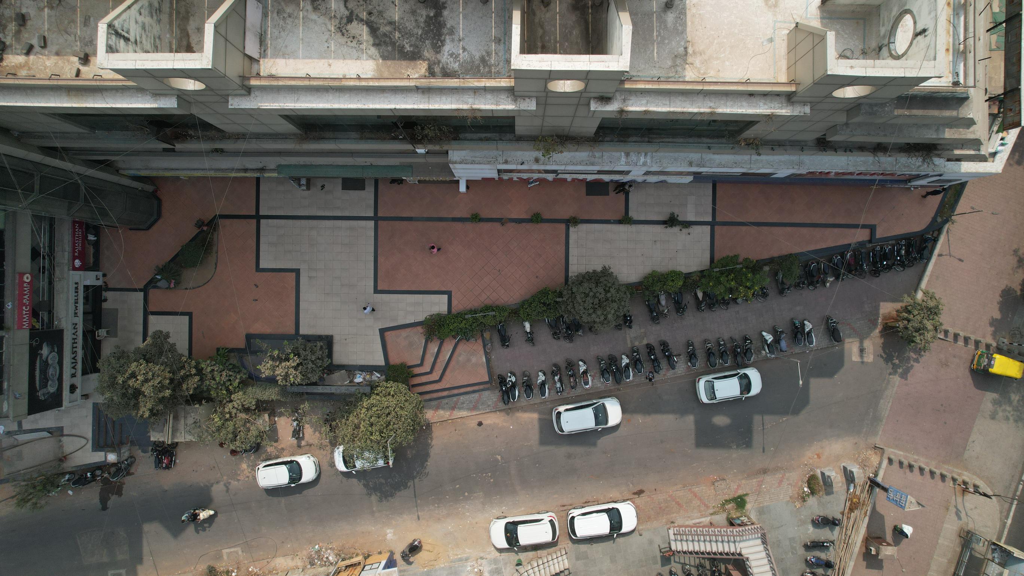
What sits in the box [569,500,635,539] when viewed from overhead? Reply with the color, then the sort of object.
white car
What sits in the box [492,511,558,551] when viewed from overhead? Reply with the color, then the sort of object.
white car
